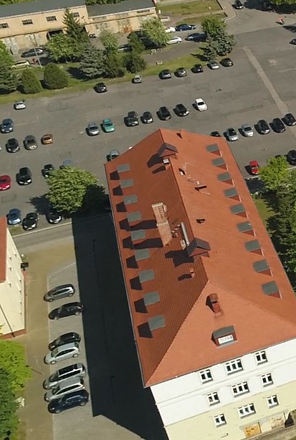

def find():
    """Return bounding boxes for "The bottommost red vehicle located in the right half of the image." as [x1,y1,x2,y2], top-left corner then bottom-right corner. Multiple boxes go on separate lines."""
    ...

[248,161,261,175]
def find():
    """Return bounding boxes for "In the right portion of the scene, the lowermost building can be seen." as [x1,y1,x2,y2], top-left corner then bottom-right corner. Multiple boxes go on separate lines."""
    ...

[104,121,296,440]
